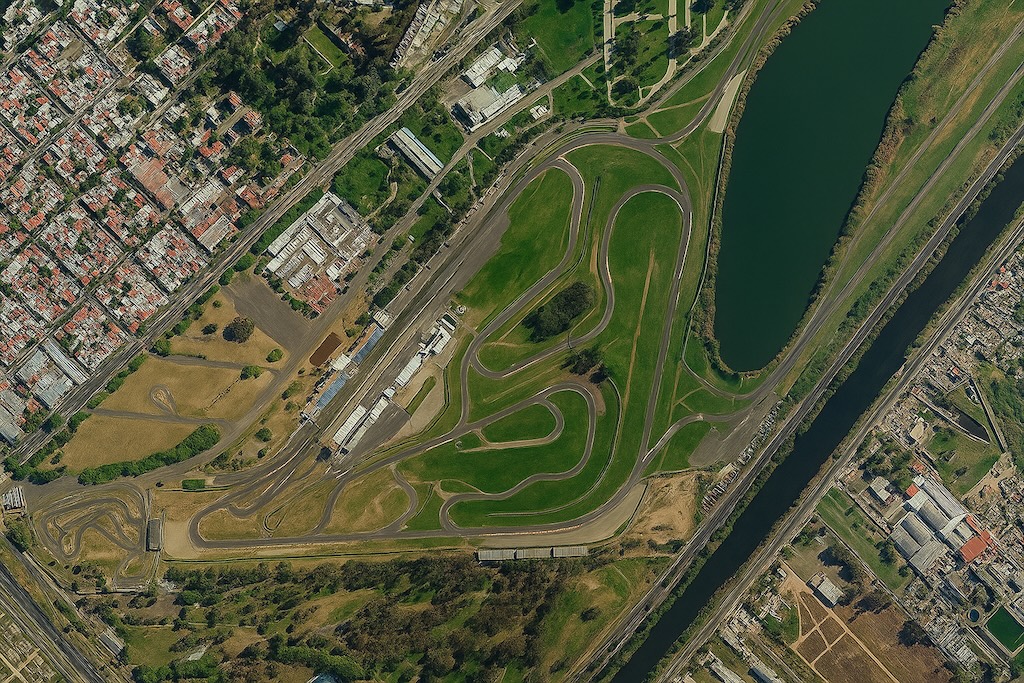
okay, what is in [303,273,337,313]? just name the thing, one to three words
building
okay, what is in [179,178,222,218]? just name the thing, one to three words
building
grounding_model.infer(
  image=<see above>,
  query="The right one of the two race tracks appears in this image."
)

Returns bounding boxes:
[164,0,1024,557]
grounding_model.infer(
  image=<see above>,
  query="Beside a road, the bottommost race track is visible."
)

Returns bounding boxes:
[31,482,147,585]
